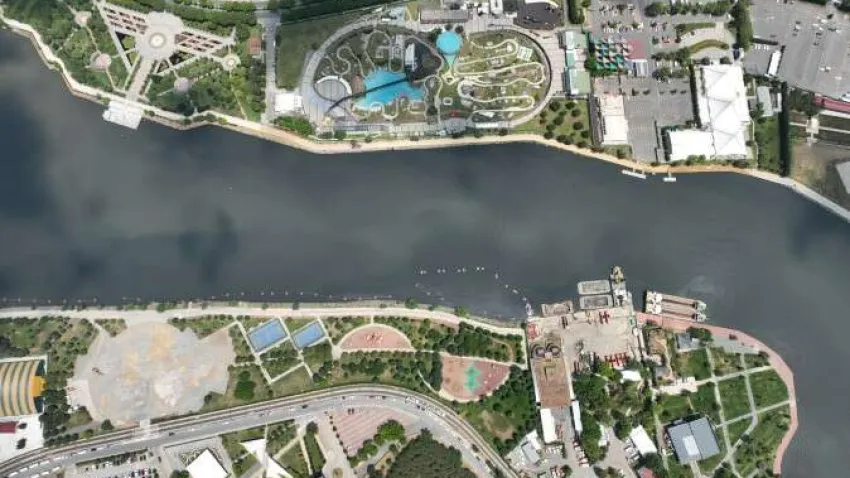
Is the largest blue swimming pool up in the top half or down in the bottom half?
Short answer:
top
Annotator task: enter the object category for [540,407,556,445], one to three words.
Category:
shed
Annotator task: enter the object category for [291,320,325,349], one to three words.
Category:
sports court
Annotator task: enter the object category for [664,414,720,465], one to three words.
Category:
building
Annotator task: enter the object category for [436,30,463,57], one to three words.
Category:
swimming pool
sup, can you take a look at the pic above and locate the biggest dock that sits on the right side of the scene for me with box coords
[611,281,633,310]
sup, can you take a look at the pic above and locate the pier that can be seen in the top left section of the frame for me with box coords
[102,100,143,130]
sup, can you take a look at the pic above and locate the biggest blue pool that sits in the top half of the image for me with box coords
[355,69,427,111]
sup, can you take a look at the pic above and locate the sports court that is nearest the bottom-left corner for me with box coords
[246,318,287,353]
